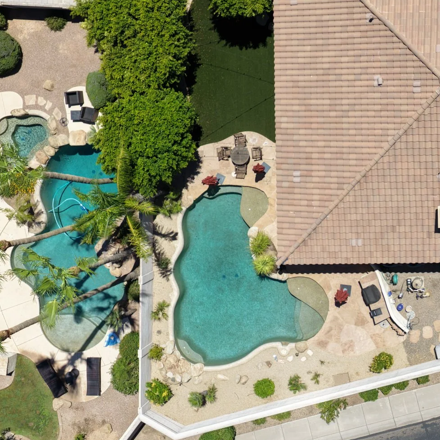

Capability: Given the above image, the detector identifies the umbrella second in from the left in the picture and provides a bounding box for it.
[251,161,271,177]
